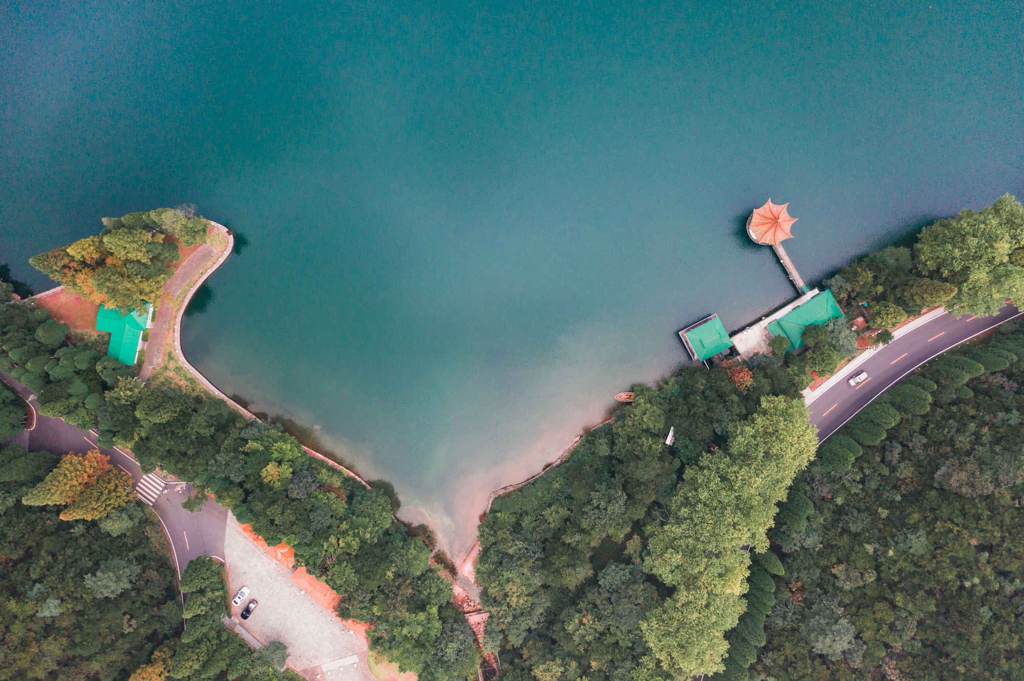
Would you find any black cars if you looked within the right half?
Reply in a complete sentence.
No, within the right half there is no black car.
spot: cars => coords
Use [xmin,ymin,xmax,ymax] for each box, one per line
[239,600,257,622]
[849,371,871,387]
[231,587,249,608]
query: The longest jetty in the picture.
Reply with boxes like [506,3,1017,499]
[772,242,808,289]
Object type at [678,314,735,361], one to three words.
building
